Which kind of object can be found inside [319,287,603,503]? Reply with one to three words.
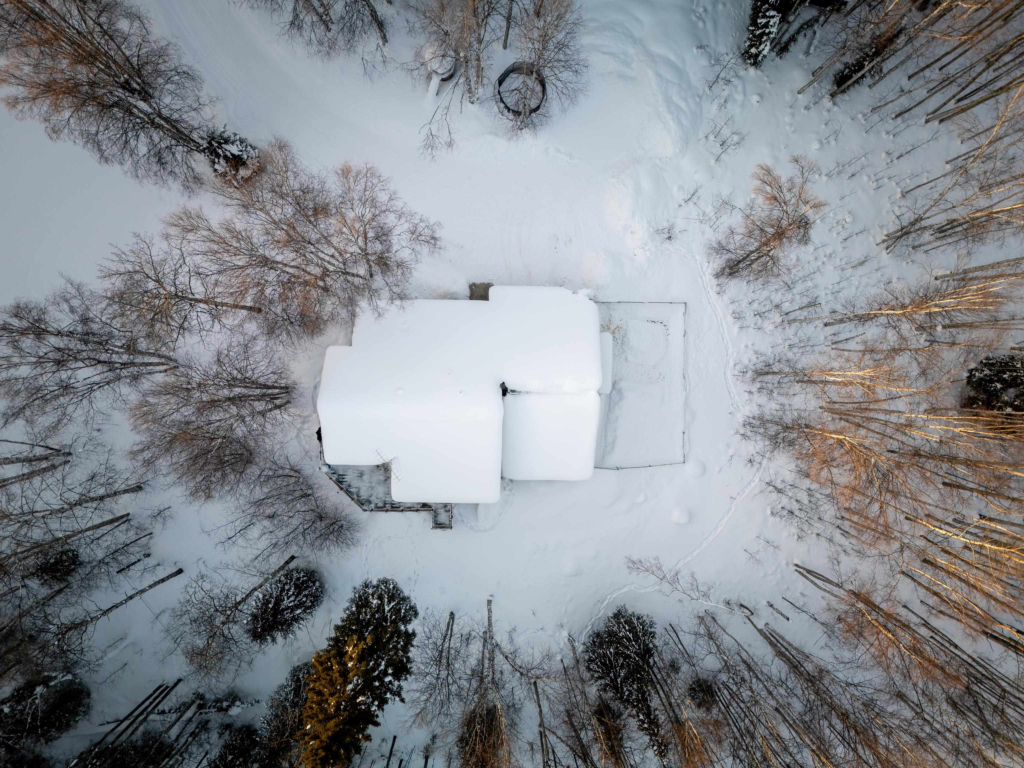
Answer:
house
